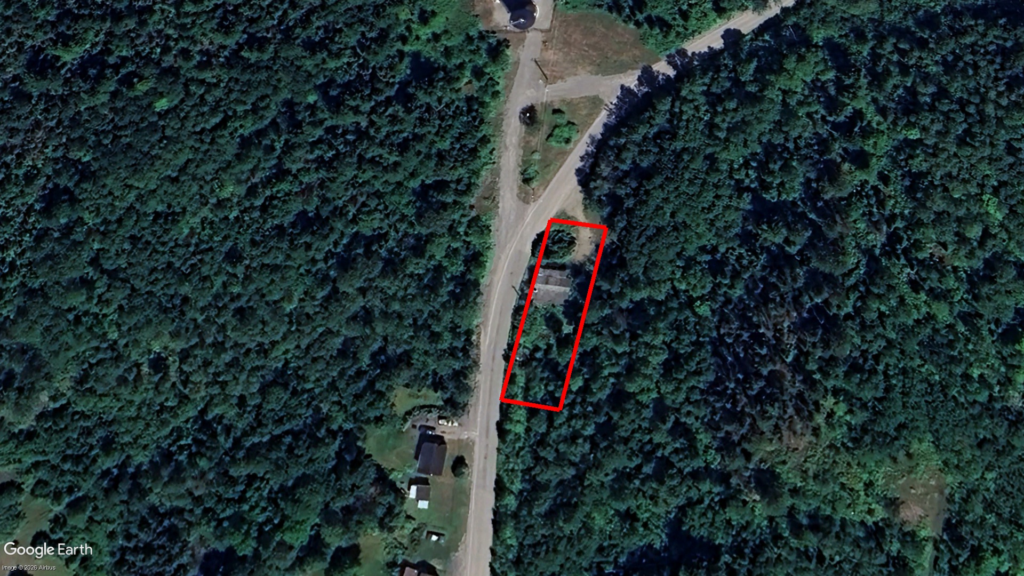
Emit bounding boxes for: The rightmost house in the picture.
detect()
[534,267,571,305]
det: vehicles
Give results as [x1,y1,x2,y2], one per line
[438,419,457,426]
[420,426,436,434]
